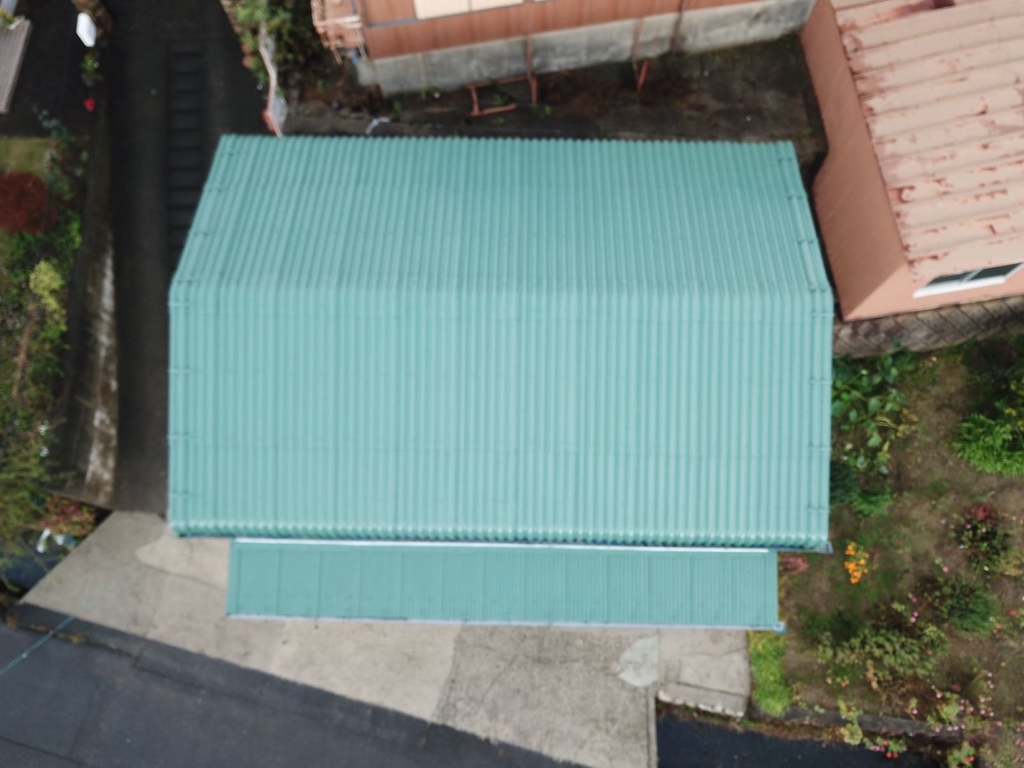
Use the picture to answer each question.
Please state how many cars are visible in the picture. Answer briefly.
0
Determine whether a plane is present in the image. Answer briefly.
No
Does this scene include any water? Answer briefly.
No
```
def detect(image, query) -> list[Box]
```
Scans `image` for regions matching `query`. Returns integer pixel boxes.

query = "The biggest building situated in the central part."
[166,135,836,553]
